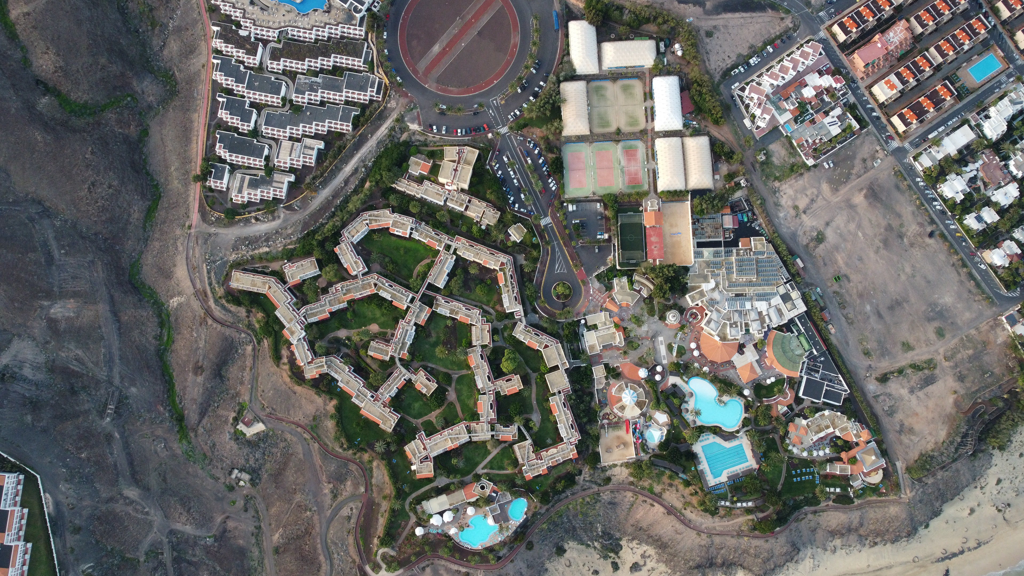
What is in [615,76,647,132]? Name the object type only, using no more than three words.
tennis court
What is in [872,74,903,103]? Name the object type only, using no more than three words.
house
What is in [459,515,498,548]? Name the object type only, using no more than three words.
swimming pool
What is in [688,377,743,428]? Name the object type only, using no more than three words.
swimming pool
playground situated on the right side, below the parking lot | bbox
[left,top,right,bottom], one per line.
[599,417,642,464]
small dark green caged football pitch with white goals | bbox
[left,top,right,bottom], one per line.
[618,211,646,262]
